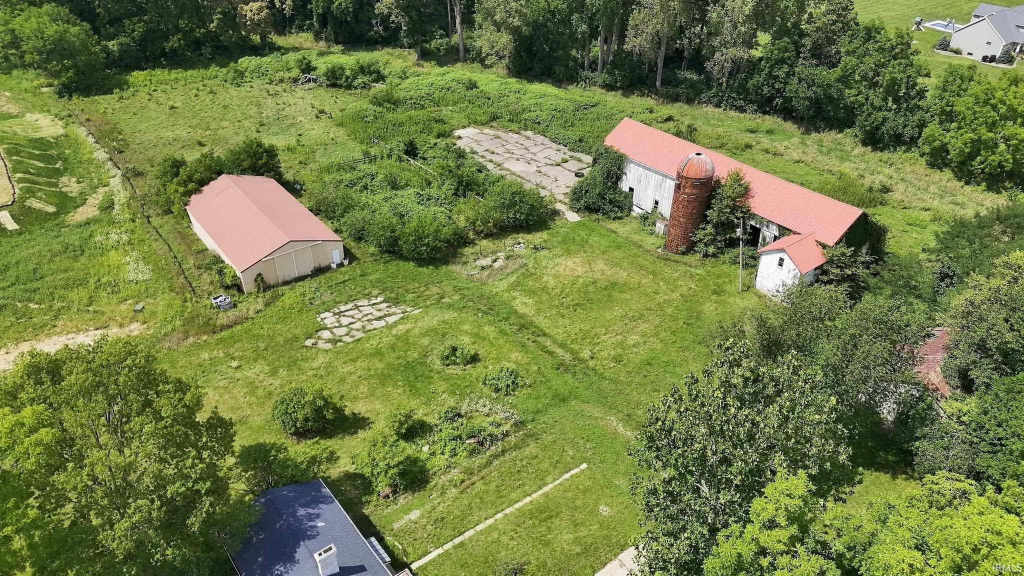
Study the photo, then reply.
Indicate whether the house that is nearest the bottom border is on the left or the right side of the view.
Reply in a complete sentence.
The house that is nearest the bottom border appears in the left half of the scene.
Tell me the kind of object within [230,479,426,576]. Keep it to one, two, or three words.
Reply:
house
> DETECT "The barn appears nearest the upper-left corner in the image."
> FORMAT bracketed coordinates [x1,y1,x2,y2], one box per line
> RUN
[180,174,344,294]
